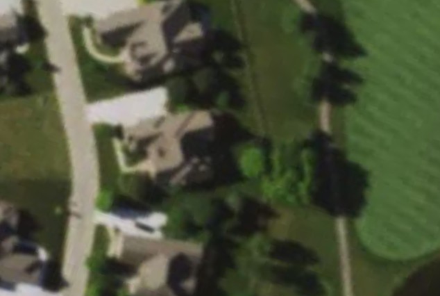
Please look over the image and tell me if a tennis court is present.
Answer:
No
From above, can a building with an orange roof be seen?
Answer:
No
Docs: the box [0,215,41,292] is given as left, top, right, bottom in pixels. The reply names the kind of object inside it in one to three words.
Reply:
house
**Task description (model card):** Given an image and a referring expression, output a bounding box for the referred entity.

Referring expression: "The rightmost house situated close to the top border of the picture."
[90,0,211,85]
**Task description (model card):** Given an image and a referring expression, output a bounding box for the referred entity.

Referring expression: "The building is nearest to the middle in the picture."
[109,101,227,194]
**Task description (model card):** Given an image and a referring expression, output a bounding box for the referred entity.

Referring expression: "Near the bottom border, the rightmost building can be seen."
[111,228,204,296]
